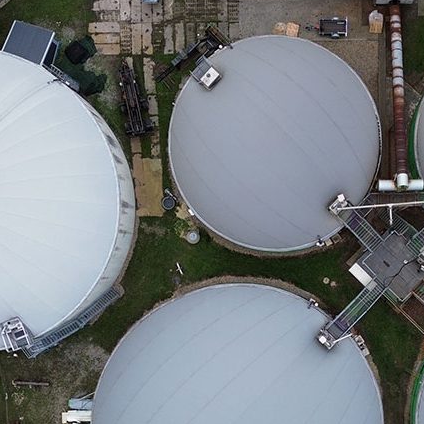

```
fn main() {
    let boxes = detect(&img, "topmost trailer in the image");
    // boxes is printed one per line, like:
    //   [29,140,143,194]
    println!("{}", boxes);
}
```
[305,16,347,42]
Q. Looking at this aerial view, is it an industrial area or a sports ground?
industrial area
